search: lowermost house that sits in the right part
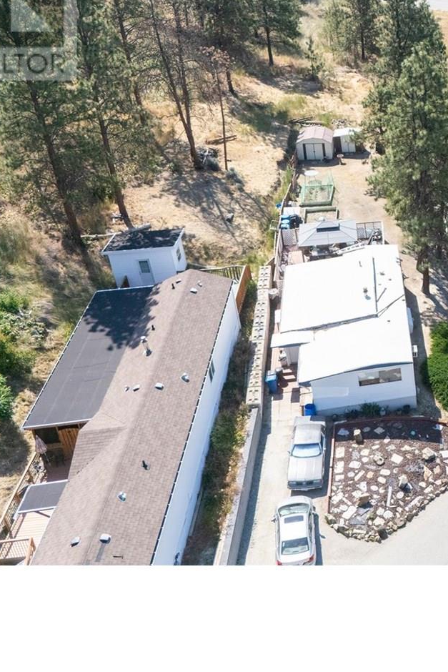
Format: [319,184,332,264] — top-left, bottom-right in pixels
[267,243,418,439]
